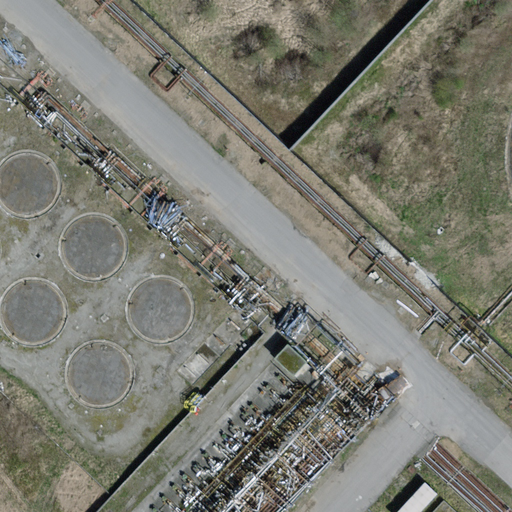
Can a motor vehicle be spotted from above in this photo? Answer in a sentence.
No, the photo shows no motor vehicle.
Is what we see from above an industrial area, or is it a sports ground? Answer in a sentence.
It's an industrial area.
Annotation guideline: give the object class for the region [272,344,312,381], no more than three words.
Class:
building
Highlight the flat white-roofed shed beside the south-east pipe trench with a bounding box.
[401,484,438,512]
